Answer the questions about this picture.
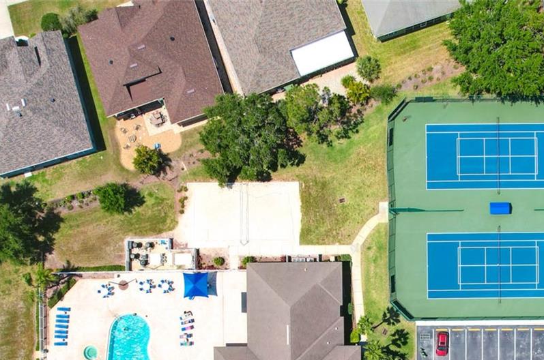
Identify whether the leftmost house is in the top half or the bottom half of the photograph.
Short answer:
top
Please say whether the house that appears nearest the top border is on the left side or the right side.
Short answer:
right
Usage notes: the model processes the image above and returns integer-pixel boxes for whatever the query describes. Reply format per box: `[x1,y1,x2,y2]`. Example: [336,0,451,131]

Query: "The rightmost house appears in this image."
[364,0,458,43]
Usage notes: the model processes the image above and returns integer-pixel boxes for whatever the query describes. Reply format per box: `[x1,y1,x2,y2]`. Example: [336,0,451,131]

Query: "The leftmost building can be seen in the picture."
[0,26,97,176]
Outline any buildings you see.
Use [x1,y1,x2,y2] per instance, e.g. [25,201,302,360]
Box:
[209,0,355,98]
[214,262,362,360]
[364,0,458,43]
[79,0,226,133]
[0,26,97,176]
